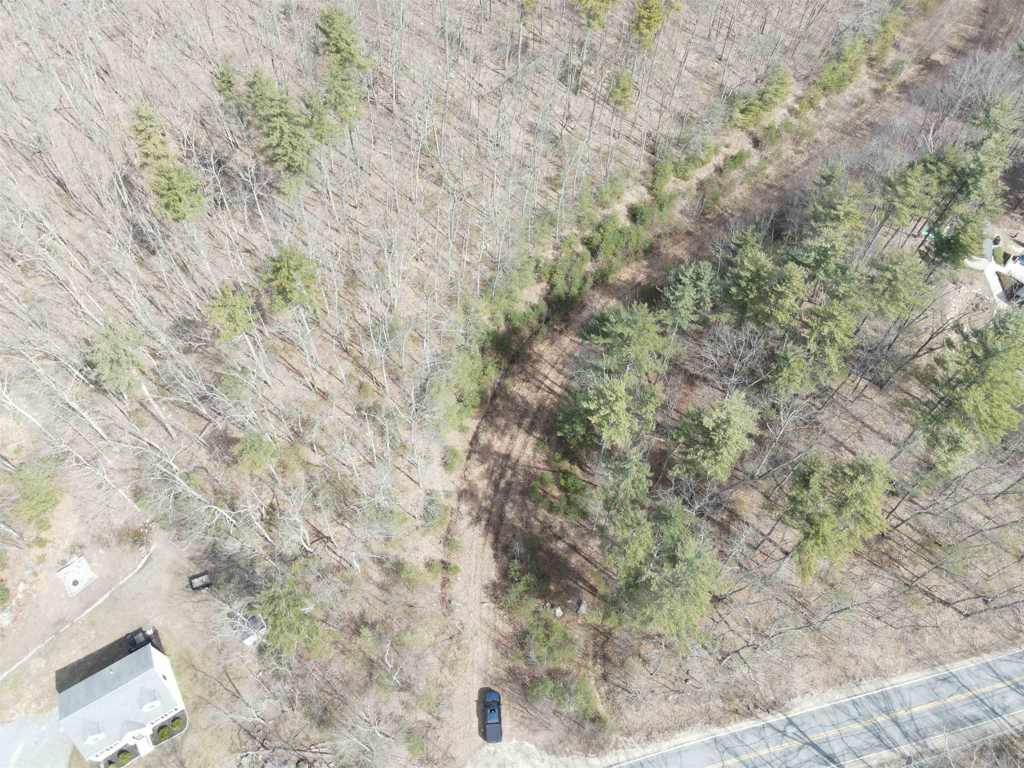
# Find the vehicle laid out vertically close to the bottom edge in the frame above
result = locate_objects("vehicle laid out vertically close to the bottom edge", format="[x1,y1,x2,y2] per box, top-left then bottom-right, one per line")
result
[484,691,504,743]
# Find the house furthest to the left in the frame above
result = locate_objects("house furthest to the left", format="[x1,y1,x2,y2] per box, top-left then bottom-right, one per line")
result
[53,630,186,761]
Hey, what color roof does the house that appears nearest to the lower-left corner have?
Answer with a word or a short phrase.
white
